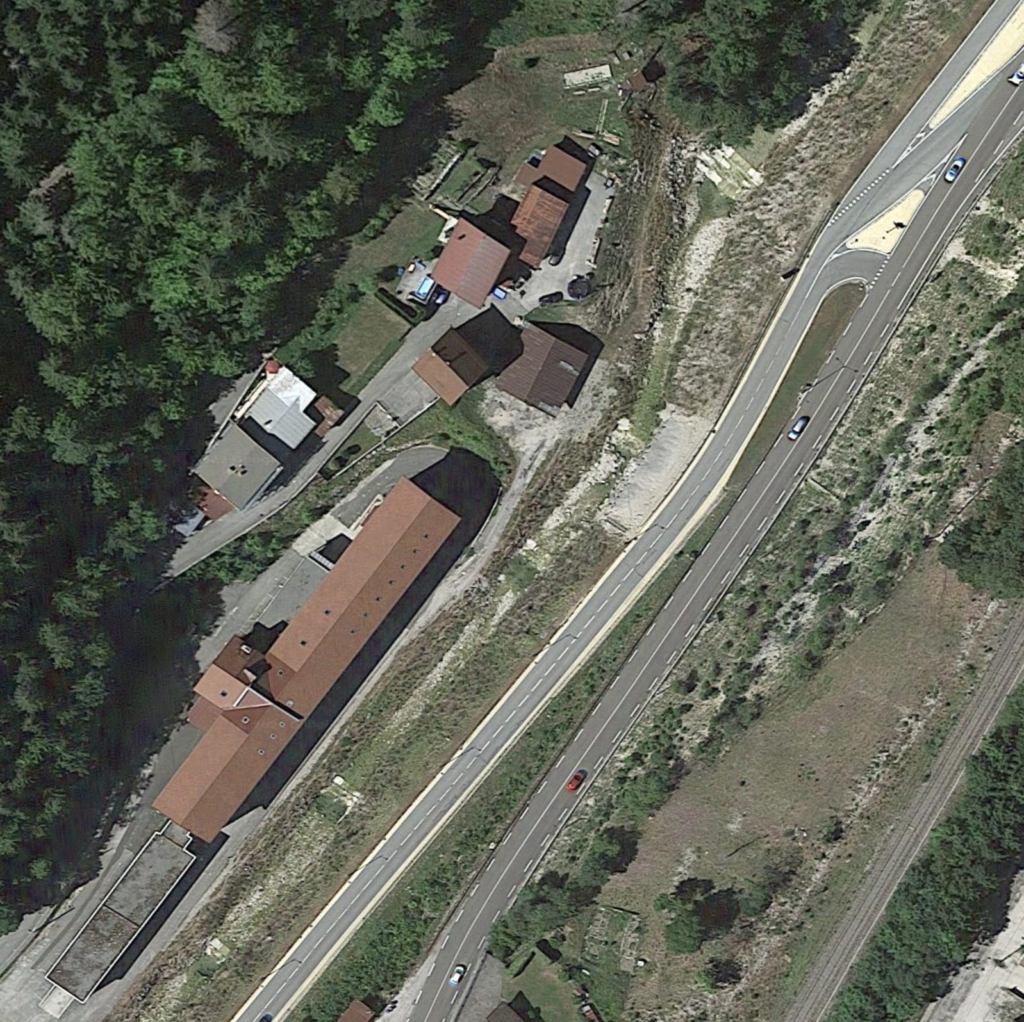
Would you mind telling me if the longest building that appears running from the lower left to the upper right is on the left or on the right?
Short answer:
left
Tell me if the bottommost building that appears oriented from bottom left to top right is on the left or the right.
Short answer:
left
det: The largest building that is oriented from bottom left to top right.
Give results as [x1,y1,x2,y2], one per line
[152,476,461,843]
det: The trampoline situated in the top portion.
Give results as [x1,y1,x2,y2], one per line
[570,279,588,297]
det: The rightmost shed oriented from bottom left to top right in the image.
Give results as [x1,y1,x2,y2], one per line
[619,70,649,96]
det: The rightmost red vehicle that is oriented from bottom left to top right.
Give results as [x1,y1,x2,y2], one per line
[567,770,586,793]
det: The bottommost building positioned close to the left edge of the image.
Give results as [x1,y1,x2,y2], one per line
[46,821,195,1003]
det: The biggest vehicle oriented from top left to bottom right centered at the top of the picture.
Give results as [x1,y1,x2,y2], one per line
[583,141,605,159]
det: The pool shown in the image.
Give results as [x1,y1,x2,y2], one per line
[416,276,433,298]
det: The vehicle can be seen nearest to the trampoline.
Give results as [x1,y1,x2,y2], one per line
[540,291,563,304]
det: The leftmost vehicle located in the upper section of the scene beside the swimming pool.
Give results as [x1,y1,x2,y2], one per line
[431,288,447,309]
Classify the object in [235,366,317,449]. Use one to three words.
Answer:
house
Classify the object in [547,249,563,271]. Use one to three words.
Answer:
car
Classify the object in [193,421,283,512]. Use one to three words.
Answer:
house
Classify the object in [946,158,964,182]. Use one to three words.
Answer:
car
